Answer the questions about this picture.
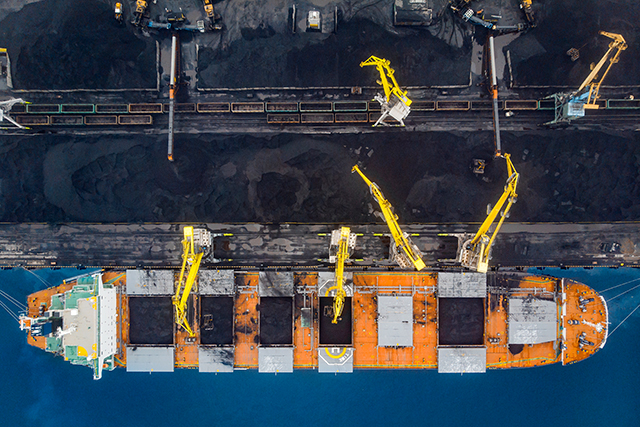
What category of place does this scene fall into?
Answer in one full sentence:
The area seen from above is a port.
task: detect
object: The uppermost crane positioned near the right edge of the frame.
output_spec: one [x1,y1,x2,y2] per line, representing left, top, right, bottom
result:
[539,30,628,125]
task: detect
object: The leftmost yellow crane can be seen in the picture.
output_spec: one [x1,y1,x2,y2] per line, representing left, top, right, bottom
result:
[172,227,232,338]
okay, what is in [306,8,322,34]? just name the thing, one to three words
work vehicle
